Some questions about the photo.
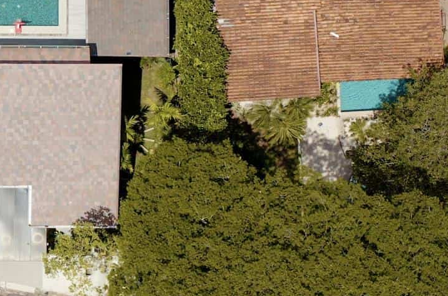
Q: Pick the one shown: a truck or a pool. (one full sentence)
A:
Of the two, only a pool appears.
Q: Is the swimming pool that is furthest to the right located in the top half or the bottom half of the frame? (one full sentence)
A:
The swimming pool that is furthest to the right sits in the top half of the picture.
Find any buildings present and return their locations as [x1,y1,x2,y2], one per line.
[0,45,123,228]
[212,0,445,103]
